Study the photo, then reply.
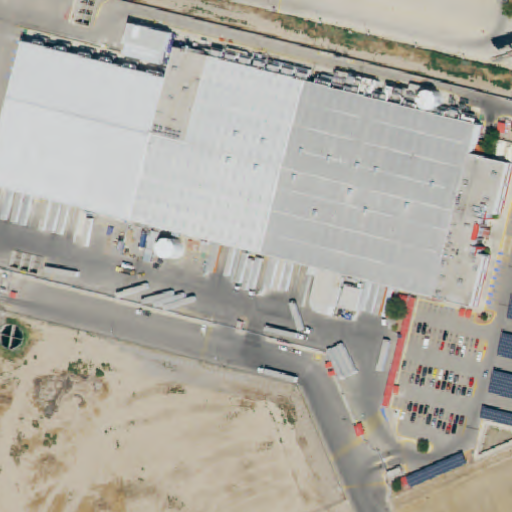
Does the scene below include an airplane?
No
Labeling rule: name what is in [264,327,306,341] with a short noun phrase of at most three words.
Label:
vehicle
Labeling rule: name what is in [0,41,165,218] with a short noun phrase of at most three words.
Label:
building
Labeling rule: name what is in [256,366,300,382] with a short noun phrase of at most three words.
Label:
vehicle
